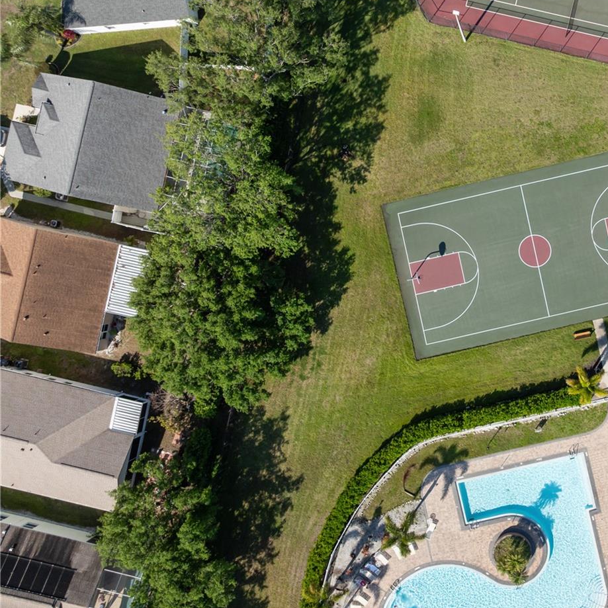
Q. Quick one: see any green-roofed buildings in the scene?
No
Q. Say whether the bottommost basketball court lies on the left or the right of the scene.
right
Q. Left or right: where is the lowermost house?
left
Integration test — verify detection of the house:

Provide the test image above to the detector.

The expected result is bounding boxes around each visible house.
[3,73,243,210]
[0,222,147,354]
[62,0,197,32]
[0,514,131,608]
[0,367,157,511]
